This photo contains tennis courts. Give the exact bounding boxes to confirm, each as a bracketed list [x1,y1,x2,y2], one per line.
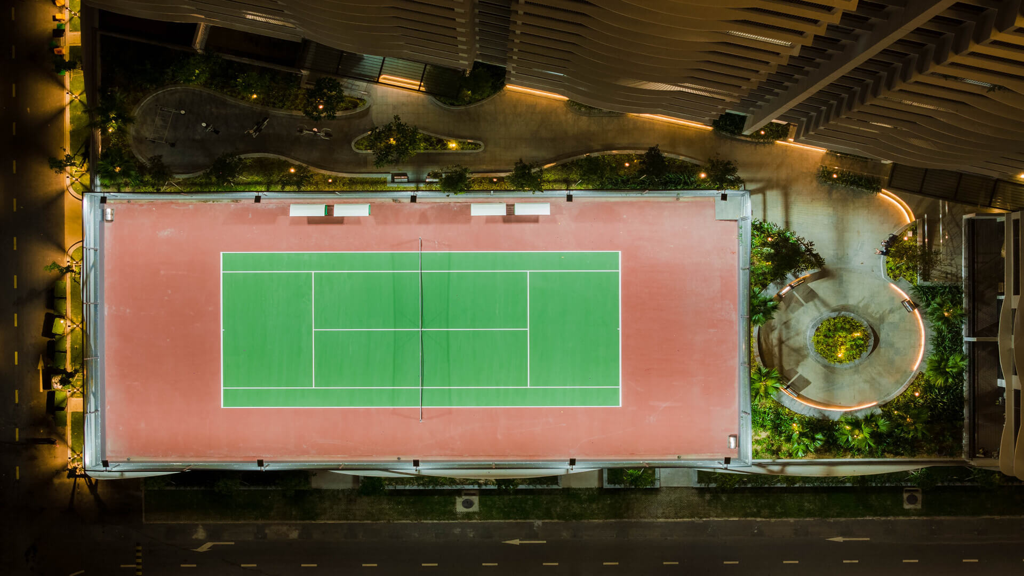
[100,196,743,464]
